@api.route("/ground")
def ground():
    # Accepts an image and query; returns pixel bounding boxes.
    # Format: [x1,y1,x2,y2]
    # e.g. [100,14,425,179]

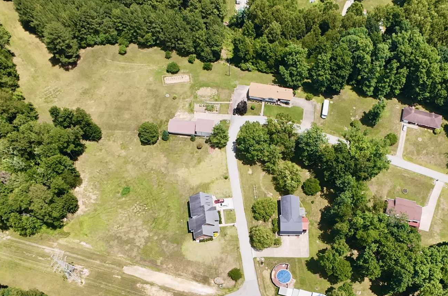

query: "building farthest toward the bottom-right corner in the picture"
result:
[384,198,423,228]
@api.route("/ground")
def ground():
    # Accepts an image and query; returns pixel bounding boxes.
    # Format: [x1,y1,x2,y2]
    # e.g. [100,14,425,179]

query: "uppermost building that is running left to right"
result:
[249,83,293,103]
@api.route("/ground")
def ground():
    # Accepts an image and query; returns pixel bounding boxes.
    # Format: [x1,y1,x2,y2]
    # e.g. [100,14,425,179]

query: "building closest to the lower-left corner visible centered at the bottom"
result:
[189,194,220,239]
